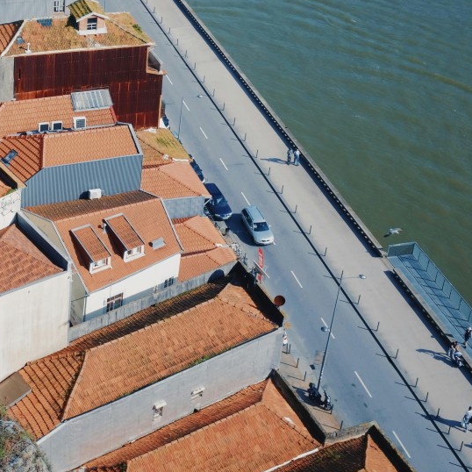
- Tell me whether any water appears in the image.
Yes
